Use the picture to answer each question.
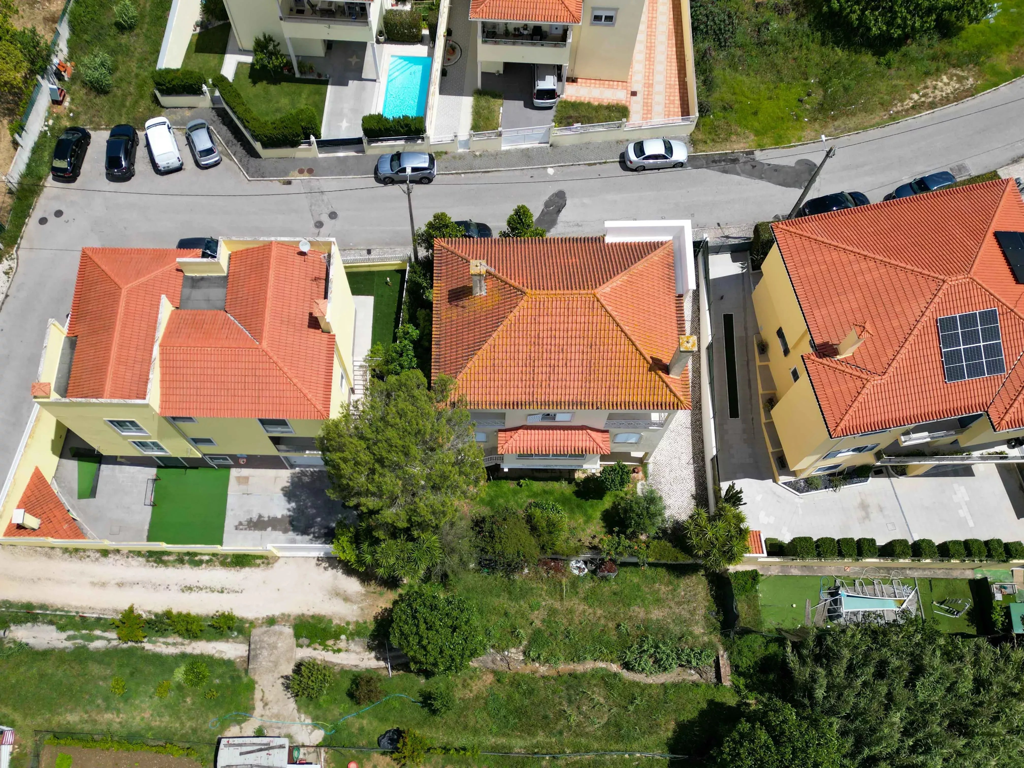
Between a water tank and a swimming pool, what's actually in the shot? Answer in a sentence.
Of the two, only a swimming pool appears.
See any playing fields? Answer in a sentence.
Yes, a playing field is visible in the scene.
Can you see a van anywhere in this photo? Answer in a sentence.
Yes, the frame does contain a van.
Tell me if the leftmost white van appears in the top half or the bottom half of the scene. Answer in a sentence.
It is in the top half that the leftmost white van appears.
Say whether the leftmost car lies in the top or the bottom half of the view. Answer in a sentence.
The leftmost car sits in the top half of the picture.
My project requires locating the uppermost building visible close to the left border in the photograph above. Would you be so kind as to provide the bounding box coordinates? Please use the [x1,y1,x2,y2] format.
[26,234,360,470]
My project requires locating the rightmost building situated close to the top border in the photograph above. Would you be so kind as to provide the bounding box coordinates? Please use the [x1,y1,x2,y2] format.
[469,0,644,94]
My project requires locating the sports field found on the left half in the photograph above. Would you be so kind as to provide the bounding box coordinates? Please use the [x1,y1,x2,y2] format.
[147,467,230,545]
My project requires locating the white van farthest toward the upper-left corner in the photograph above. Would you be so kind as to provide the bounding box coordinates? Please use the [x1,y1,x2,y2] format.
[141,121,184,174]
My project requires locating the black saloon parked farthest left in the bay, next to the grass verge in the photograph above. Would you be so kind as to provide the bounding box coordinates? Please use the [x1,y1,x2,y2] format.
[54,129,96,183]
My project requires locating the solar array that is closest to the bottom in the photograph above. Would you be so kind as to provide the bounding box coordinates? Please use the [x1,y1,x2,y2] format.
[940,308,1008,382]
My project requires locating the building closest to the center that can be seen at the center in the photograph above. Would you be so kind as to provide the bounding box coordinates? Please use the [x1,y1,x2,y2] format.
[430,221,701,475]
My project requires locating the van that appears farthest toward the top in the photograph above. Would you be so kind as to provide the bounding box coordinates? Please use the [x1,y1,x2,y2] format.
[532,64,561,110]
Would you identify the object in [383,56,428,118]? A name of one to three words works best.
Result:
swimming pool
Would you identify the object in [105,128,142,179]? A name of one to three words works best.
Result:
car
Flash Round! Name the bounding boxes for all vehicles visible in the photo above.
[141,121,184,174]
[172,233,226,250]
[105,128,142,179]
[532,64,561,110]
[185,121,225,169]
[886,172,950,201]
[54,129,96,183]
[375,152,437,185]
[623,140,689,172]
[803,191,865,217]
